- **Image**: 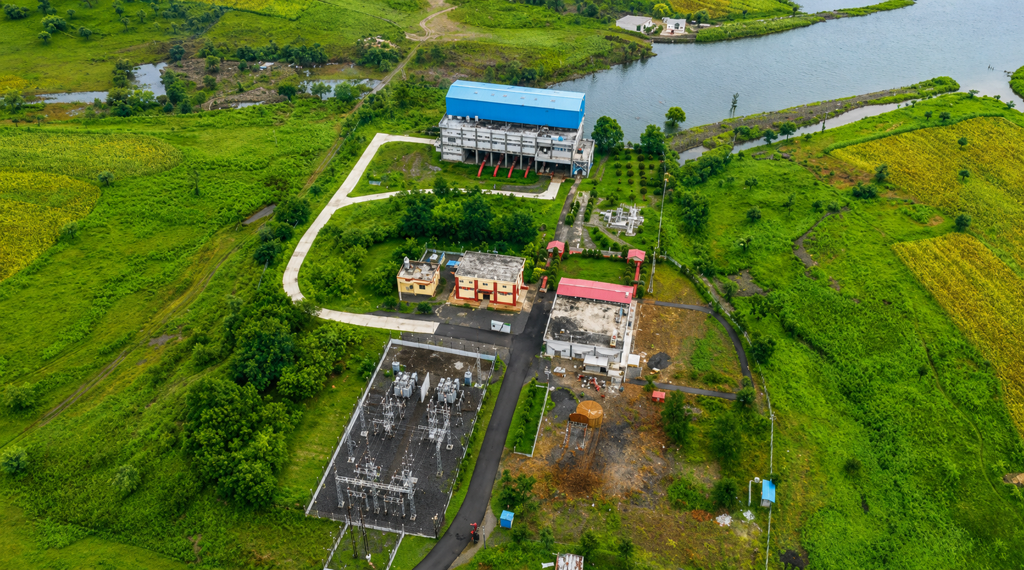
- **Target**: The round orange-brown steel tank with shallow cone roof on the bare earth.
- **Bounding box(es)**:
[580,402,609,437]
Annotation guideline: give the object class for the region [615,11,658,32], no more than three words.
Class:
building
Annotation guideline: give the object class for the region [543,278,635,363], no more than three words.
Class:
building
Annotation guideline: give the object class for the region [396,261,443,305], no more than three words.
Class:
house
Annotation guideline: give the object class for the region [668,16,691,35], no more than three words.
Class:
house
